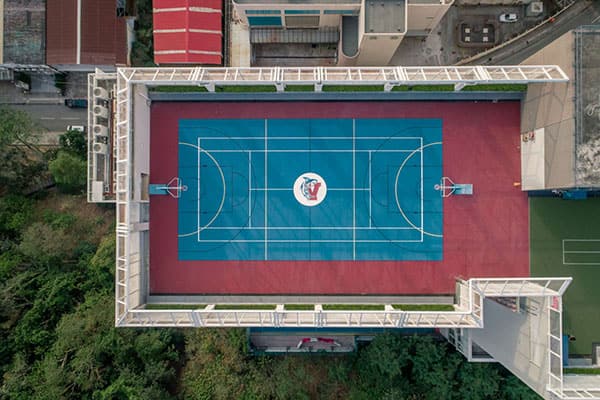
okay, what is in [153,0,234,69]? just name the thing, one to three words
building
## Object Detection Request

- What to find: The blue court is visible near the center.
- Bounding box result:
[150,100,530,294]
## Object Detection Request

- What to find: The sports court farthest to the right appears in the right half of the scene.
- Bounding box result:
[530,190,600,350]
